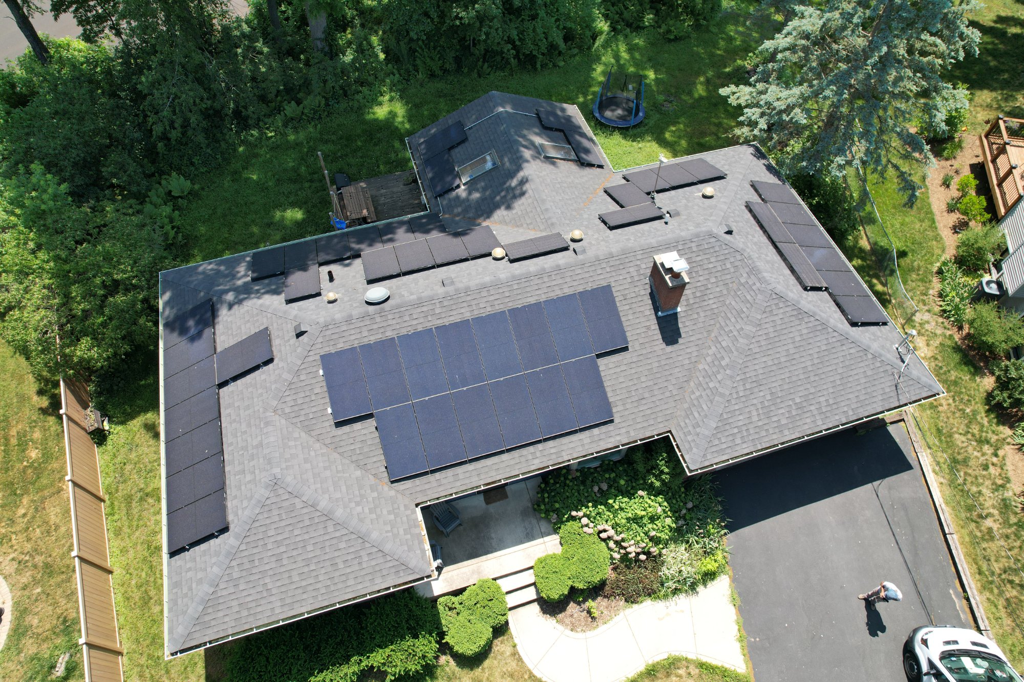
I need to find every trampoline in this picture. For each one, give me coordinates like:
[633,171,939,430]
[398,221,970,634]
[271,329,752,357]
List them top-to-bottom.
[593,62,654,137]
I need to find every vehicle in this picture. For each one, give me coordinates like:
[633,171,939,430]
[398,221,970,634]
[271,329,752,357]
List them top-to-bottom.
[903,627,1016,682]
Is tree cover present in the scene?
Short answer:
Yes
